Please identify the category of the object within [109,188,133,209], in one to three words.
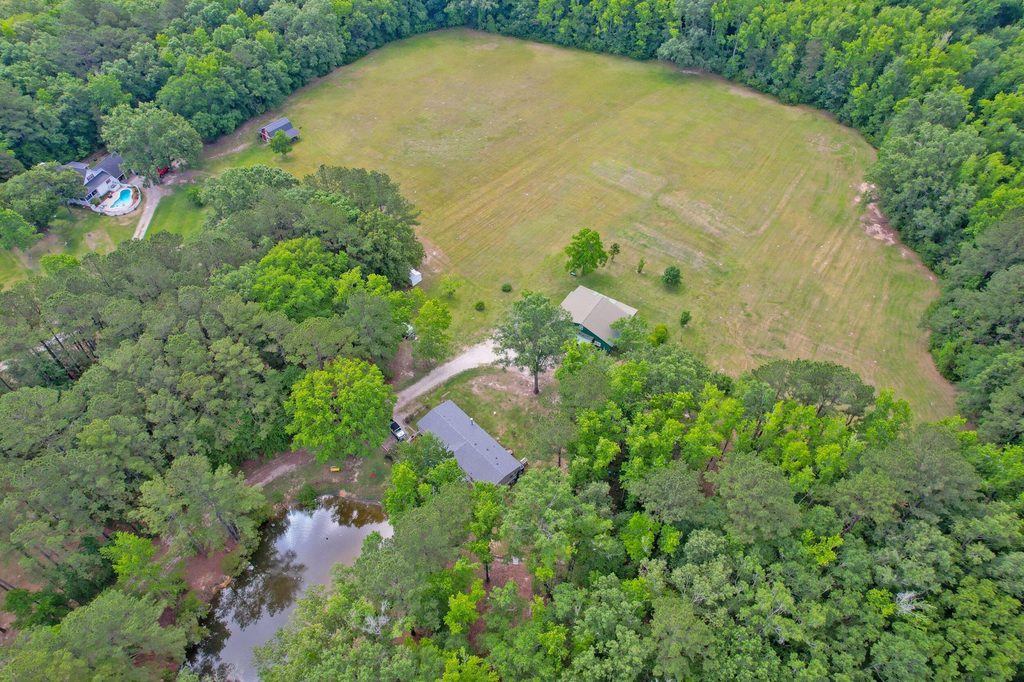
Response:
swimming pool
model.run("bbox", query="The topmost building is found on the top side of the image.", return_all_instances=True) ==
[260,117,302,150]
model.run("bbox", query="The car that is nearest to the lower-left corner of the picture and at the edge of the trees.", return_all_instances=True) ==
[391,417,410,441]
